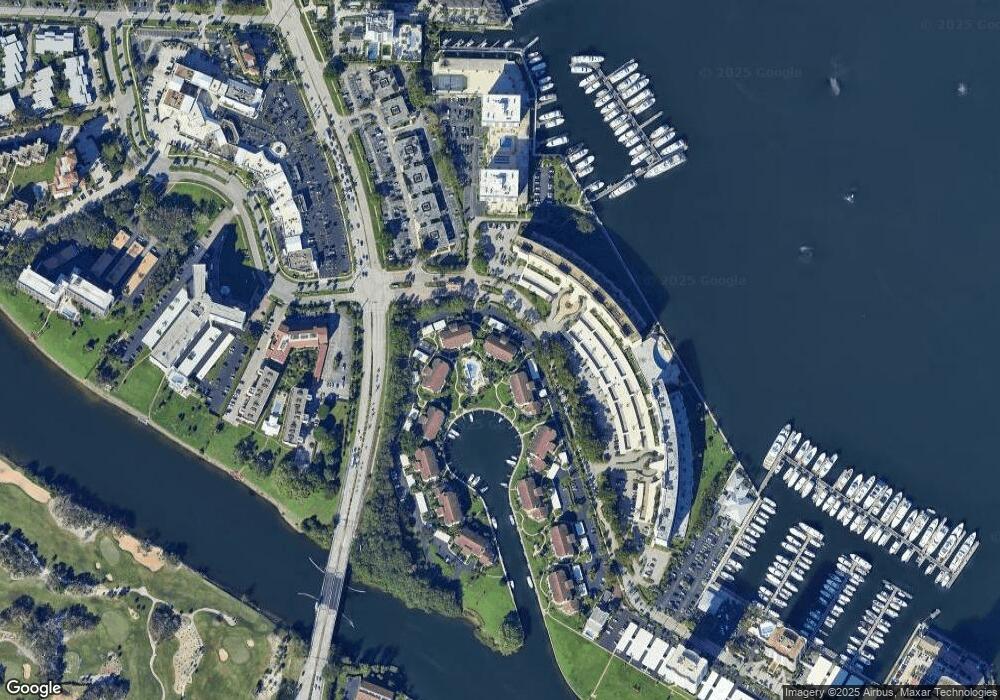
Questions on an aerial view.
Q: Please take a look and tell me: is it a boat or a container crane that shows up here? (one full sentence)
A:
There is a boat in the scene.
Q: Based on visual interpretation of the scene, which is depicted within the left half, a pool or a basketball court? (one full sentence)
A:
The feature located within the left half is a pool.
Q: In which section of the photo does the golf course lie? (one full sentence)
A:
The golf course is located in the bottom left region of the scene.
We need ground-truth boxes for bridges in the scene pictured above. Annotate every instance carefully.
[297,528,365,679]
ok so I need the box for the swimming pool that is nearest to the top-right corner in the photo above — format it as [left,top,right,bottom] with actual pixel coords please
[657,336,672,361]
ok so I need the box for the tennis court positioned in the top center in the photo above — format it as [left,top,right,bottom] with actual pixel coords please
[431,74,467,92]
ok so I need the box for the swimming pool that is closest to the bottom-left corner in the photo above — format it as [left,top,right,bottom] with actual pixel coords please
[168,366,189,396]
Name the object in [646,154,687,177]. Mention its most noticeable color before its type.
white boat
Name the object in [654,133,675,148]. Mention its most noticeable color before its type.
white boat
